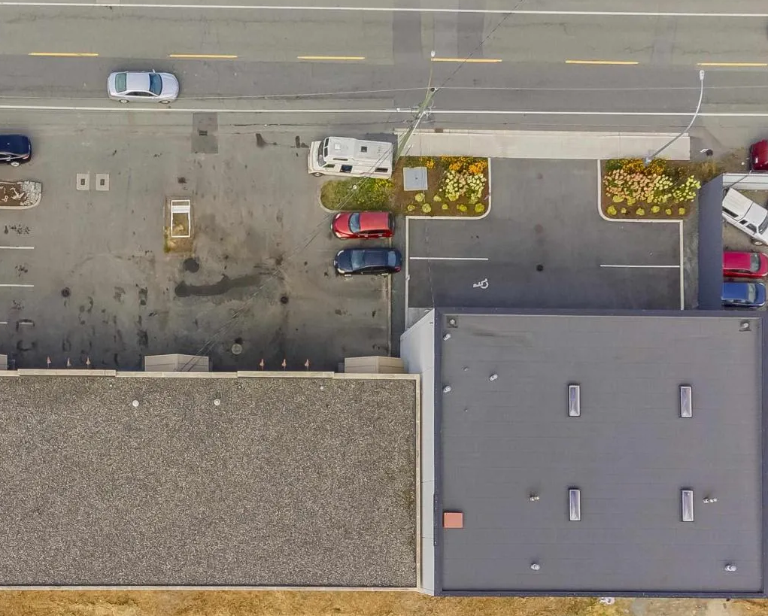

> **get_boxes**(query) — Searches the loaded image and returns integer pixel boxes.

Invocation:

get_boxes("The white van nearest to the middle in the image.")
[307,139,393,182]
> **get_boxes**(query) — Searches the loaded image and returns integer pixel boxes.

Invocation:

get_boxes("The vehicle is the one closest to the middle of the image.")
[333,245,401,277]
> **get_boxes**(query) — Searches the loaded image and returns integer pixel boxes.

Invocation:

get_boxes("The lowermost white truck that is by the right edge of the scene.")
[723,183,768,246]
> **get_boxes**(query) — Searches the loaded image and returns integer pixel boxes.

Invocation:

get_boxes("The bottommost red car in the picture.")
[723,247,767,280]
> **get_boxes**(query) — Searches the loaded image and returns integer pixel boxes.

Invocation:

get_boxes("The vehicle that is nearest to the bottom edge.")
[723,279,764,309]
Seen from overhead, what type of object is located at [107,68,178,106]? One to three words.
car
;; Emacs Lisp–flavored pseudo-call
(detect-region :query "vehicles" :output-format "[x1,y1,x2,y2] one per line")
[723,247,767,280]
[333,245,401,277]
[723,183,768,246]
[752,138,768,170]
[307,139,393,182]
[723,279,764,309]
[107,68,178,106]
[0,135,32,168]
[330,208,395,241]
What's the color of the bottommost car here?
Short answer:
blue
